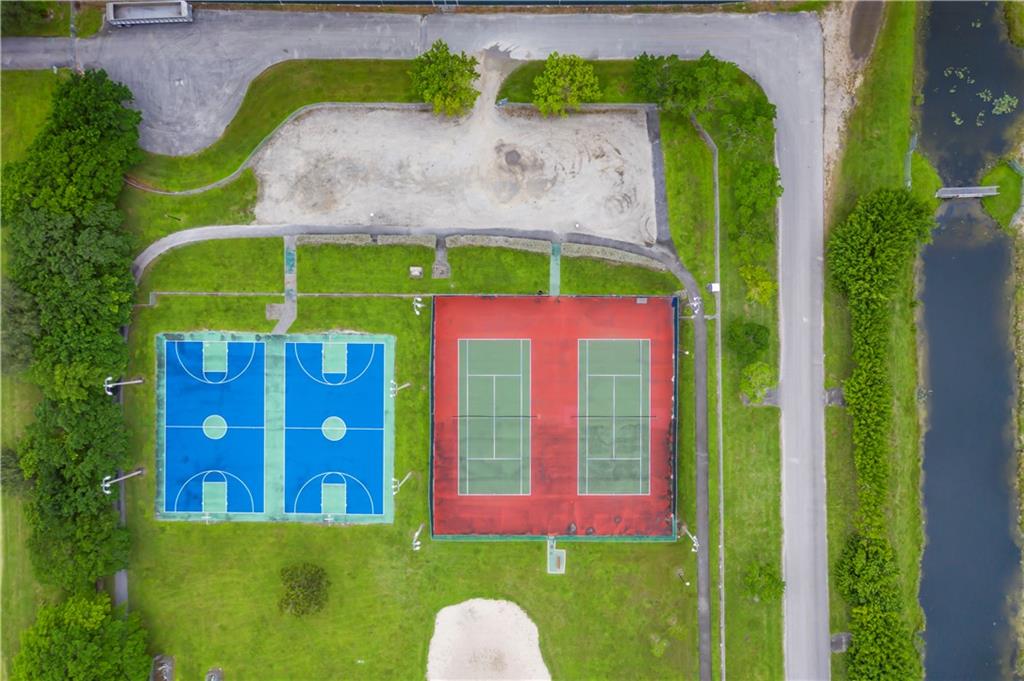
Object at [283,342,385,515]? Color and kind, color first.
blue basketball court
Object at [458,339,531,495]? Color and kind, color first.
green tennis court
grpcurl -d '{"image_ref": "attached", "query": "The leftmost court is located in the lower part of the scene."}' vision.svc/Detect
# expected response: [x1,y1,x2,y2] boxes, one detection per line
[164,341,266,513]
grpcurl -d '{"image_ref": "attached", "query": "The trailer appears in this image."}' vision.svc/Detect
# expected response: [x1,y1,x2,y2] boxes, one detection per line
[105,0,197,29]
